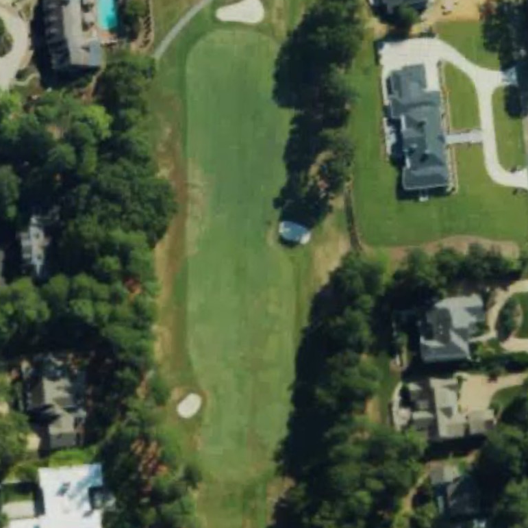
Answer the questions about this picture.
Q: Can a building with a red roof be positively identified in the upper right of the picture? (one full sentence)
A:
No, there's no building with a red roof to be seen in the upper right of the picture.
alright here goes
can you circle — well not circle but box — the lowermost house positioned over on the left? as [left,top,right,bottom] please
[11,465,112,528]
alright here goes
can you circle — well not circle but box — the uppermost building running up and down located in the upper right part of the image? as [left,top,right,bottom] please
[389,62,450,198]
